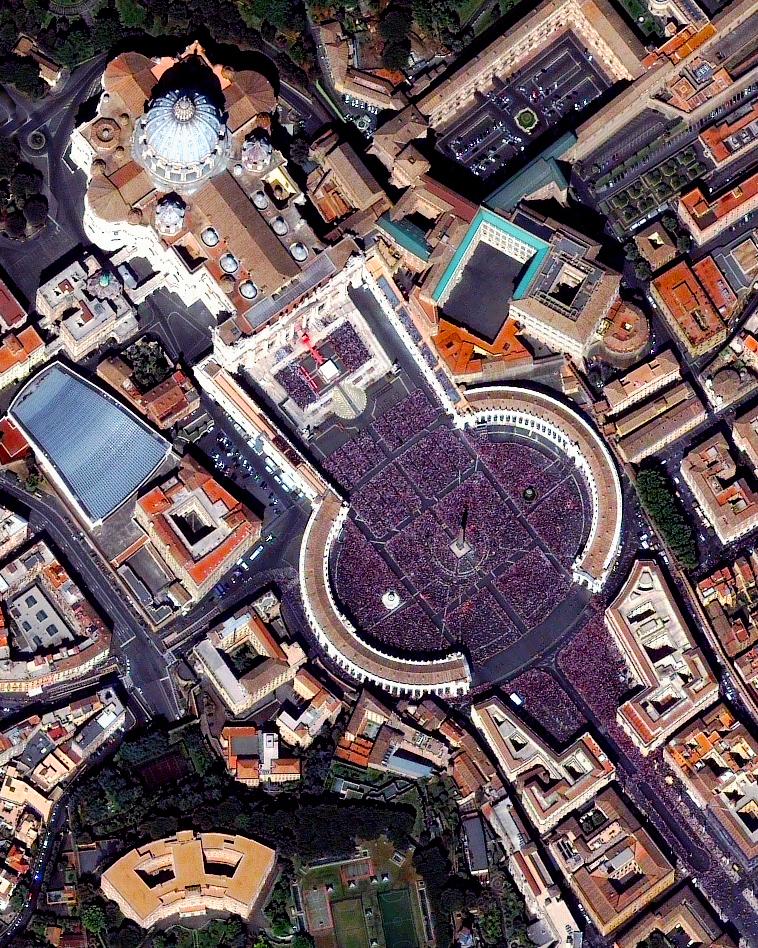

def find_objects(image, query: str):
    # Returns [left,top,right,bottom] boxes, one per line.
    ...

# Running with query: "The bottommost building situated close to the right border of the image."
[615,884,740,948]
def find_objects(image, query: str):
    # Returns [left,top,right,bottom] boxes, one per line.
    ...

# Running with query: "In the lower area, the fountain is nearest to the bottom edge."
[381,592,402,610]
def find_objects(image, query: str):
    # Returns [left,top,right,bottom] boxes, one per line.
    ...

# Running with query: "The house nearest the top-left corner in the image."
[12,32,63,89]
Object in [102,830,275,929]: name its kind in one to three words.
building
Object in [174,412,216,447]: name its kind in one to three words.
shed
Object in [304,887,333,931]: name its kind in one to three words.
basketball court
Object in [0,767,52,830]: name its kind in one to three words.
house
